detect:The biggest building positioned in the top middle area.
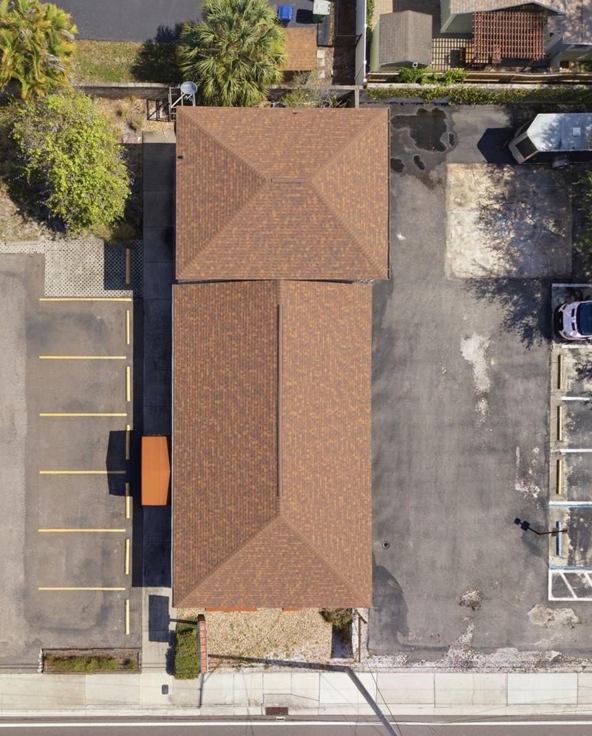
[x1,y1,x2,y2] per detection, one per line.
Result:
[173,104,392,283]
